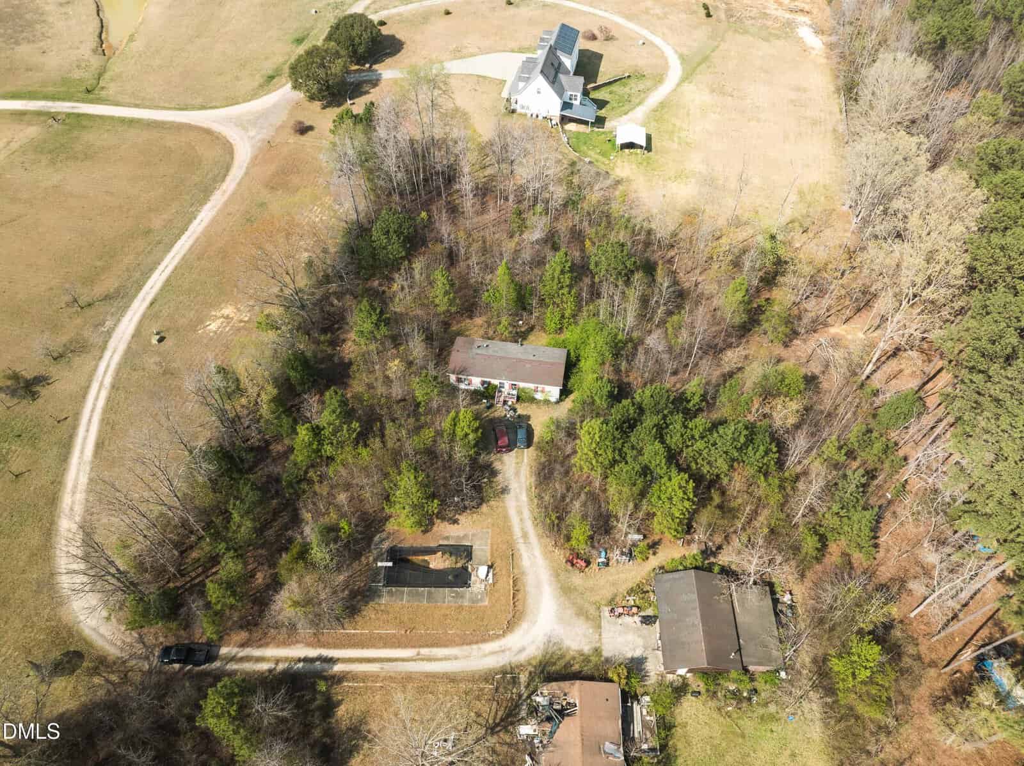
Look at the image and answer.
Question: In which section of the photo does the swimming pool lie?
bottom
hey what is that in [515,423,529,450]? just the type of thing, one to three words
car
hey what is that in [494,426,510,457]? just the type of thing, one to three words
car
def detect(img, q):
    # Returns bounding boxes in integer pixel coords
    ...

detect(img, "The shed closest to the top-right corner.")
[616,124,647,153]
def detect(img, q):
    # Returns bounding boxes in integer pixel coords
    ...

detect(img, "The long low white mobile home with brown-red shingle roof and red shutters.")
[446,336,568,409]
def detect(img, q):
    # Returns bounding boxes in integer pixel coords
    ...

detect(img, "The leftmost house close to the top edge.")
[508,16,598,131]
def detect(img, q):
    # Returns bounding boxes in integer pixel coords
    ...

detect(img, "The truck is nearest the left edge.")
[155,647,210,670]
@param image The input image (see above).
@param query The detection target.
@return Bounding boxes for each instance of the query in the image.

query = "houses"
[529,681,628,766]
[652,570,783,674]
[446,336,568,409]
[508,16,598,131]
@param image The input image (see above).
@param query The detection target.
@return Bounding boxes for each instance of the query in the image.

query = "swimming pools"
[363,532,490,605]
